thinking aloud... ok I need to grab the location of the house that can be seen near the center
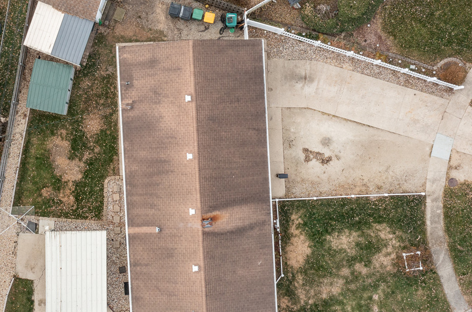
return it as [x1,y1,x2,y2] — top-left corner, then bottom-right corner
[115,38,280,312]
